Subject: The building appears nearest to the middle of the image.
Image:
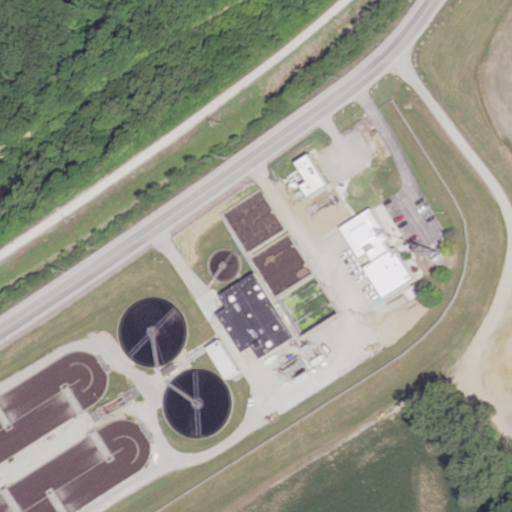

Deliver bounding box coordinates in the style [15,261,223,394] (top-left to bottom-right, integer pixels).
[216,271,295,358]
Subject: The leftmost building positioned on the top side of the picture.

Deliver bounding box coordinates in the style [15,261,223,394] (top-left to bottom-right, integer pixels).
[293,154,328,196]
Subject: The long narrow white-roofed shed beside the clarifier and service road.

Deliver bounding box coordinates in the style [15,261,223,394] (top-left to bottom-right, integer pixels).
[205,340,242,381]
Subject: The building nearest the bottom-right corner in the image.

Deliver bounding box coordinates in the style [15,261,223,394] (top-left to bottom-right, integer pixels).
[362,251,415,297]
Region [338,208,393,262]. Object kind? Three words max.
building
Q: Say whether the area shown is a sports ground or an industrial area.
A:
industrial area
